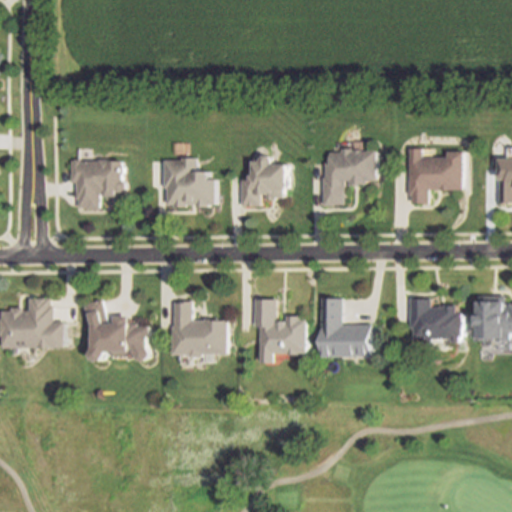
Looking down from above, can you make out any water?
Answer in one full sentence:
No, no water is visible.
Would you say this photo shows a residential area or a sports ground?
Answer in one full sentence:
The picture captures a residential area.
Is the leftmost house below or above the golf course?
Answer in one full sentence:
The leftmost house is found above the golf course in the photo.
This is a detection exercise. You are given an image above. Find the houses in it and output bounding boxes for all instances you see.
[171,302,230,356]
[71,160,126,210]
[468,295,512,345]
[254,299,309,364]
[496,146,512,204]
[407,148,466,204]
[164,142,218,210]
[86,301,148,363]
[314,298,374,357]
[408,297,464,342]
[0,298,65,349]
[321,141,378,206]
[240,156,288,207]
